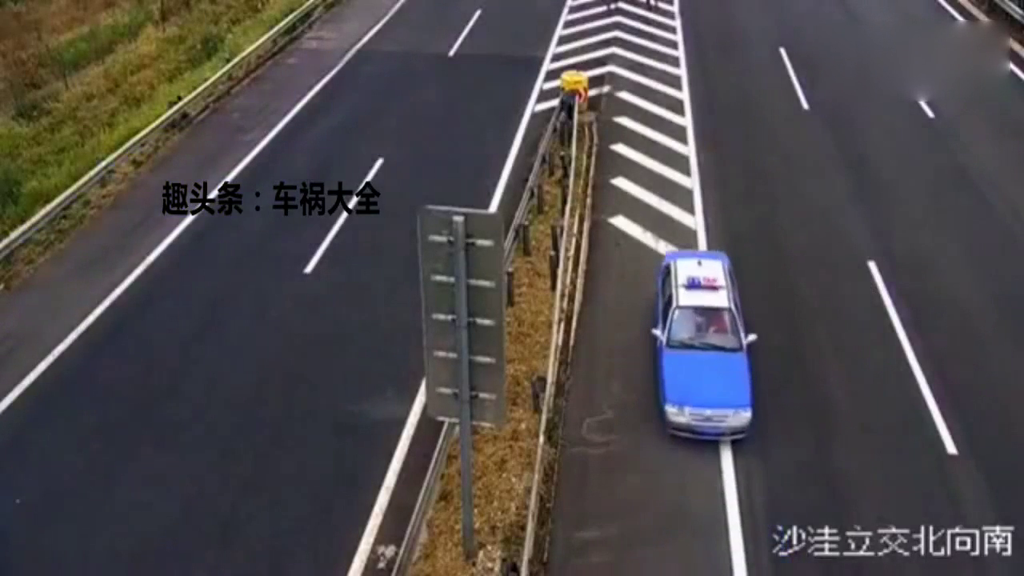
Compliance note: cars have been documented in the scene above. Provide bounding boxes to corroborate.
[651,250,760,442]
